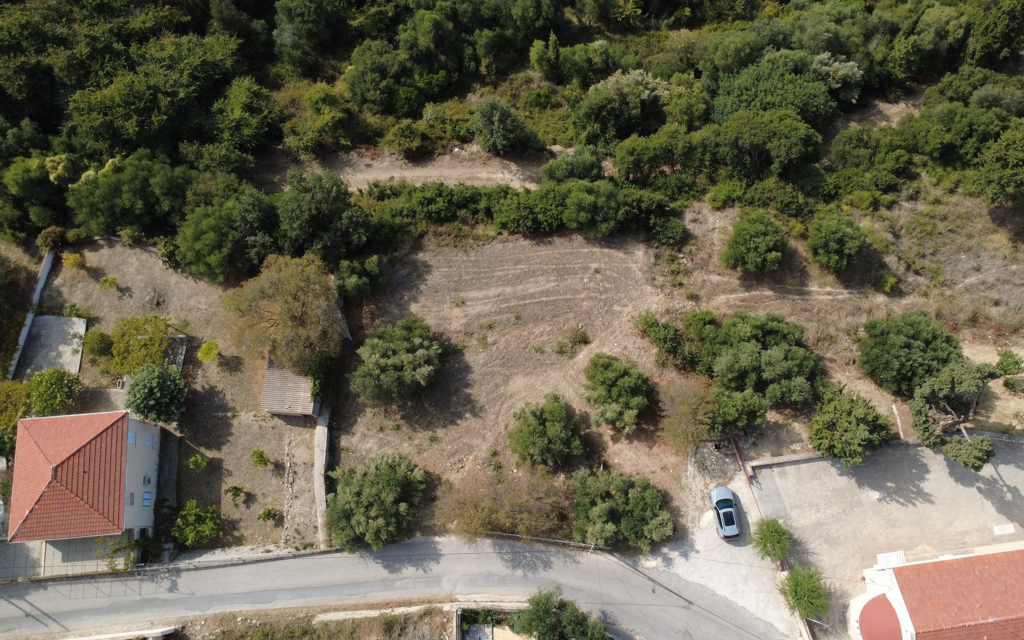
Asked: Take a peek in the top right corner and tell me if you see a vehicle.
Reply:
No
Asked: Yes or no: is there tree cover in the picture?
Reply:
Yes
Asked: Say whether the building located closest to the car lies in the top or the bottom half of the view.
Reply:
bottom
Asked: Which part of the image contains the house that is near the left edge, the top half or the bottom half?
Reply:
bottom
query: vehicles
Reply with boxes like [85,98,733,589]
[710,487,740,541]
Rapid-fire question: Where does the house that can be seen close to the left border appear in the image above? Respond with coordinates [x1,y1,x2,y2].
[4,410,159,543]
